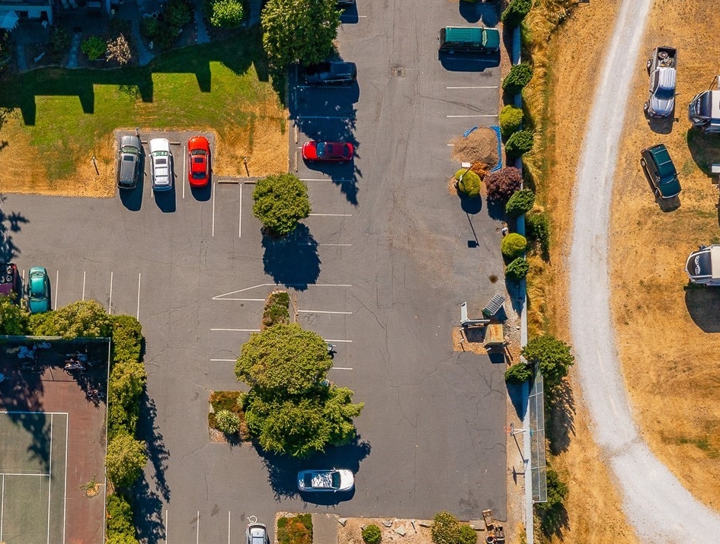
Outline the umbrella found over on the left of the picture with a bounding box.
[0,13,20,33]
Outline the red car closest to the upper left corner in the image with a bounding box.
[186,139,212,188]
